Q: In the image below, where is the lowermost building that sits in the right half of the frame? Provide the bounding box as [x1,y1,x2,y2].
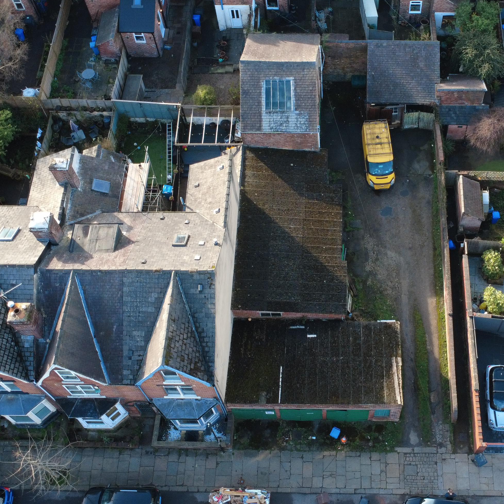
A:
[224,320,402,420]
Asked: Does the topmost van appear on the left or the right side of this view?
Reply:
right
